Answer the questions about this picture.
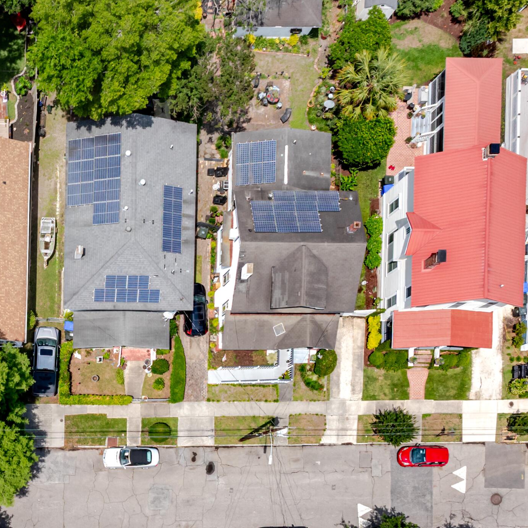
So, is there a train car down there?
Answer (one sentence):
No, this view has no train car in it.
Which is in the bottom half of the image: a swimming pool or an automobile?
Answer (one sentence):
Looking in the bottom half of the image, you will find an automobile.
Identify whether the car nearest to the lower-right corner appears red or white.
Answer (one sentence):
The car nearest to the lower-right corner looks red in the image.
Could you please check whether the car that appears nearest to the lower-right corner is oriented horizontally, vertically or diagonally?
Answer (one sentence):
The car that appears nearest to the lower-right corner has been laid out horizontally relative to the frame.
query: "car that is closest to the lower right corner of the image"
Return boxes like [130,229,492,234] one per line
[399,442,456,469]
